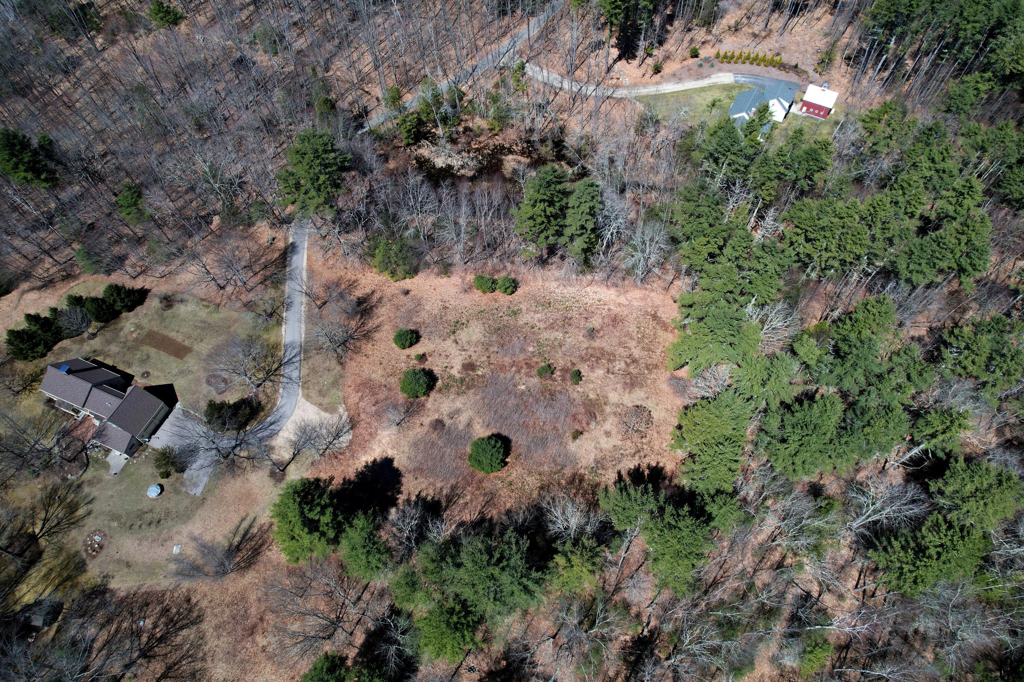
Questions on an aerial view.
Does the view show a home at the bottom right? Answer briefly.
No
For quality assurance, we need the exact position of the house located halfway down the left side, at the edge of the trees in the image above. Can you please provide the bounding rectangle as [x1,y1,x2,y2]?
[41,357,171,457]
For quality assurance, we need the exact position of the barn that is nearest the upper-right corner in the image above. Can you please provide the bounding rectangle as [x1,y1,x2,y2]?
[799,83,839,121]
